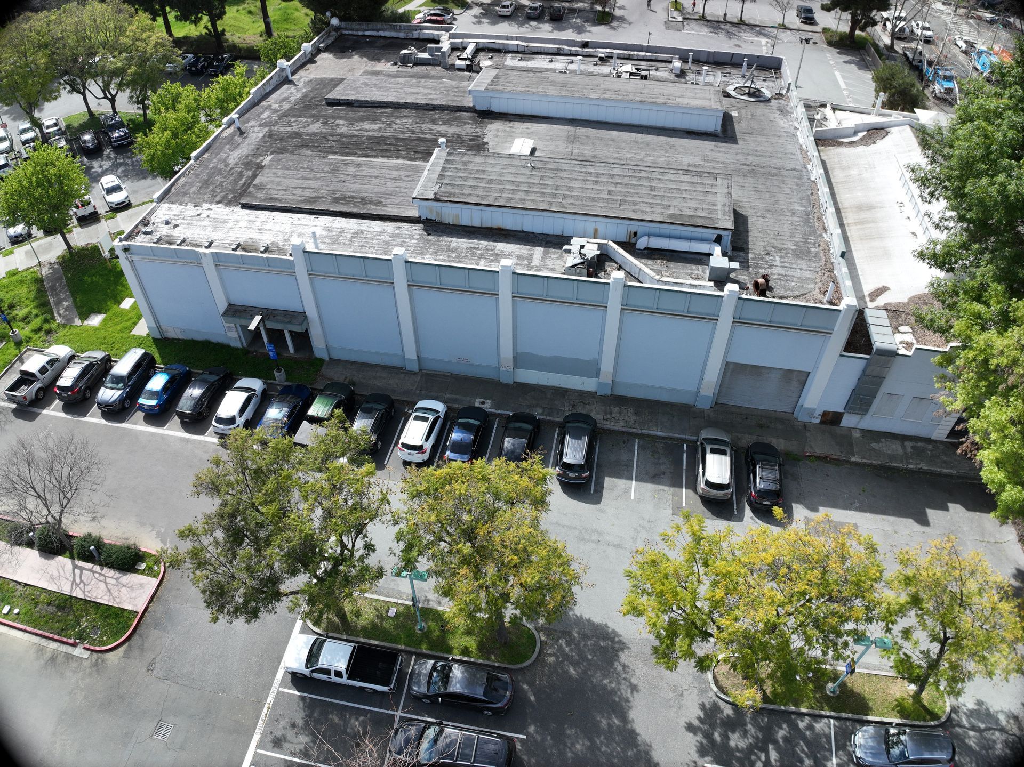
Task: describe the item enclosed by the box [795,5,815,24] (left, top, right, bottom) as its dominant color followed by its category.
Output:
gray vehicle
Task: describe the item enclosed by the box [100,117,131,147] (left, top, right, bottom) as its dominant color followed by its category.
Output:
black truck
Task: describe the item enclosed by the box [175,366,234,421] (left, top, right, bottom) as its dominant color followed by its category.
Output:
black car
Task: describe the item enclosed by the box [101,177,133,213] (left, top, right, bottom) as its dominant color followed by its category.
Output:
white car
